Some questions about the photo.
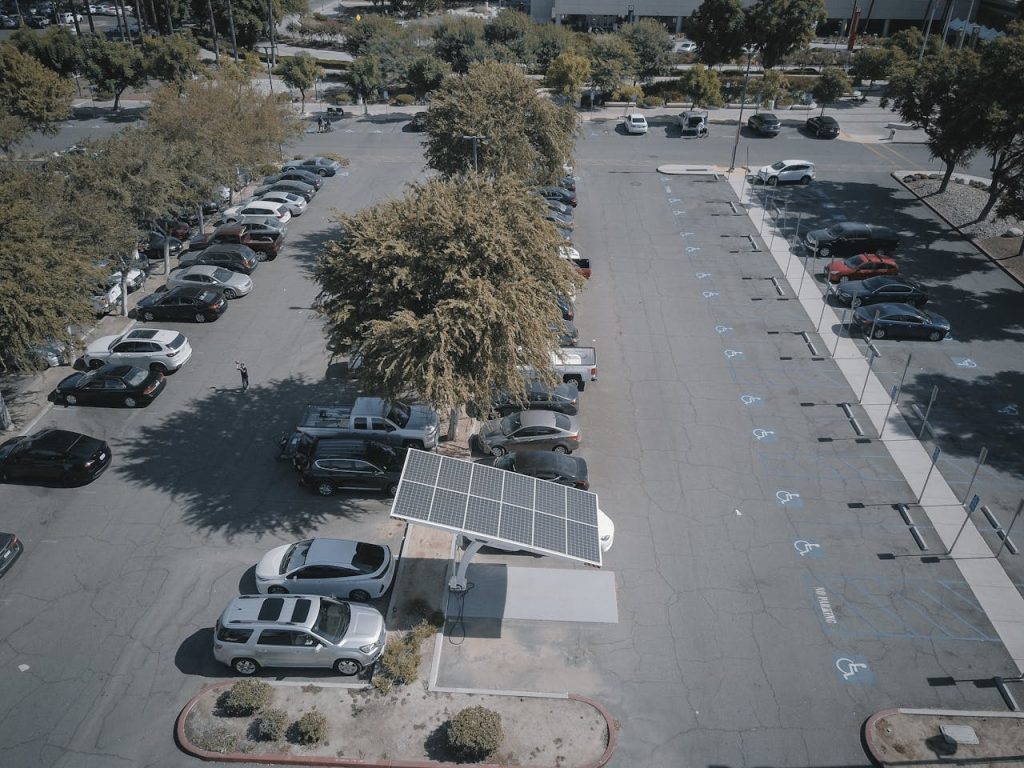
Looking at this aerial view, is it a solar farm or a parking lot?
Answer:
parking lot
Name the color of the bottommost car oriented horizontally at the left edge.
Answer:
black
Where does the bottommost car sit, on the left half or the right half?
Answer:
left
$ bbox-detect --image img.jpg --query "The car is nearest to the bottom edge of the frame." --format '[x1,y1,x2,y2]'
[212,591,387,677]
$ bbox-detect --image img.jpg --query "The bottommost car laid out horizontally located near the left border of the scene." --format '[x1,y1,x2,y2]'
[0,432,110,485]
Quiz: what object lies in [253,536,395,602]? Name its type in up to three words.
car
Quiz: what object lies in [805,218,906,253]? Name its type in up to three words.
truck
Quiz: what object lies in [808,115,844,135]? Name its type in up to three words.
car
